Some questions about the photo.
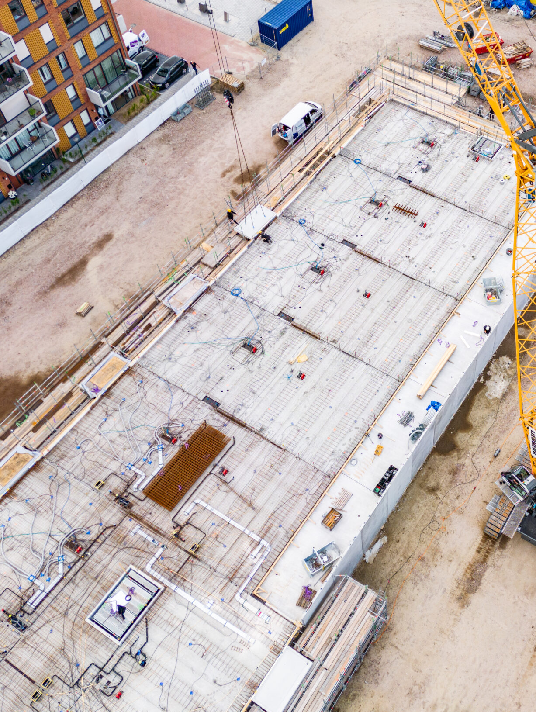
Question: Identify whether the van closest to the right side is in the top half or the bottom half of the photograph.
top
